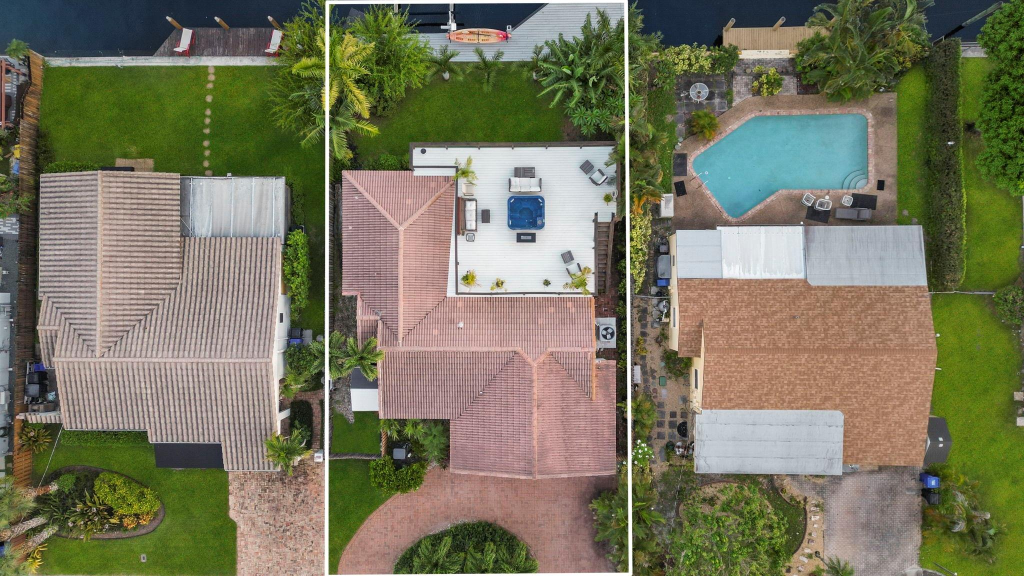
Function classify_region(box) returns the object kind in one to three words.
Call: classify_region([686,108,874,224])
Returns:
swimming pool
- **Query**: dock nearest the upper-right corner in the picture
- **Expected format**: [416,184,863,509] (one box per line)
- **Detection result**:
[723,27,803,49]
